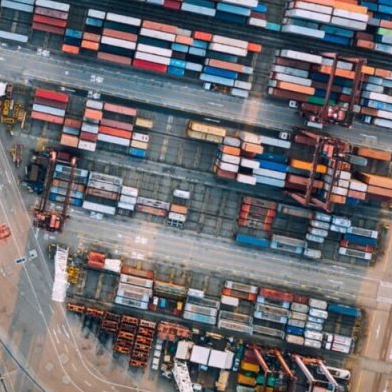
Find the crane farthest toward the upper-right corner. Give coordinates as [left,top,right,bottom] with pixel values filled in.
[300,53,361,131]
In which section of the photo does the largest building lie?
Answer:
bottom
